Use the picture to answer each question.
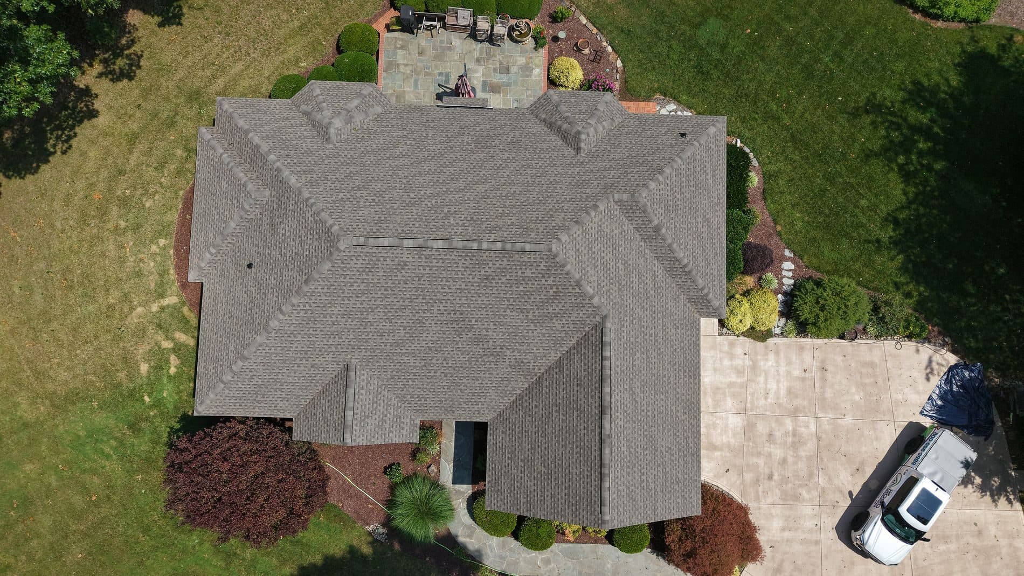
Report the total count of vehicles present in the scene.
1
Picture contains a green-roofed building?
No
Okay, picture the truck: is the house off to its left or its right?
to the left of it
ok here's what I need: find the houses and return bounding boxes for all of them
[187,80,728,530]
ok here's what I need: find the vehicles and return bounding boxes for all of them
[853,418,979,569]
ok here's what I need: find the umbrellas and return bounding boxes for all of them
[459,64,485,98]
